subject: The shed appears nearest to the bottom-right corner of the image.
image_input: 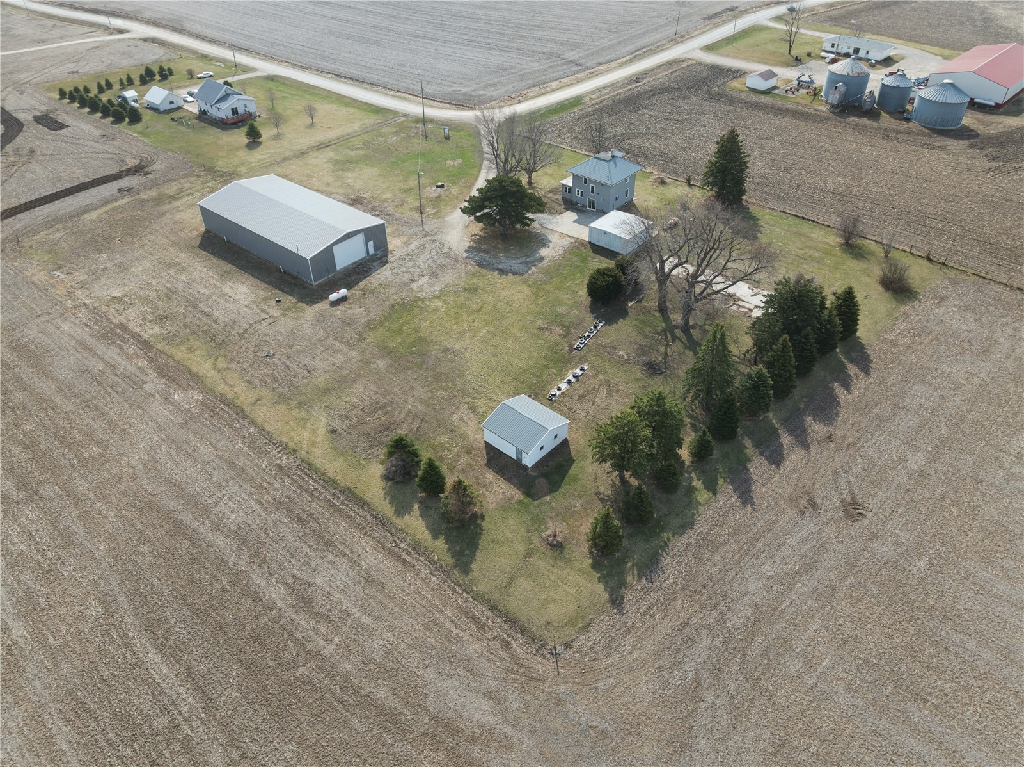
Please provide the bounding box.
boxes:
[480,395,571,468]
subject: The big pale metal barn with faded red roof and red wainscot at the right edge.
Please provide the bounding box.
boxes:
[925,42,1024,109]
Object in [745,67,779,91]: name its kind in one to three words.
shed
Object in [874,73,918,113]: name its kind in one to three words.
silo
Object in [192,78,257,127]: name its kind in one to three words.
house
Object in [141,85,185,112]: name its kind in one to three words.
building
